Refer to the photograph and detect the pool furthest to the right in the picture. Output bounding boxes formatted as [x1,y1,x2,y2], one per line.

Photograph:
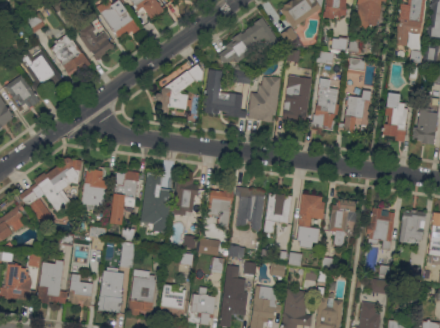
[390,64,406,89]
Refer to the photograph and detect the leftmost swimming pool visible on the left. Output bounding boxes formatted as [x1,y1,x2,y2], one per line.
[12,229,36,245]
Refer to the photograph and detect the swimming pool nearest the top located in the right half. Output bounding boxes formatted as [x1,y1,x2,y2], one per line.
[304,19,318,39]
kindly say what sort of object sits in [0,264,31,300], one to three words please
house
